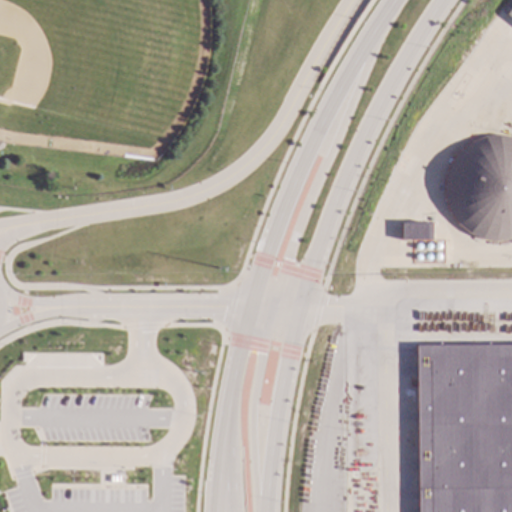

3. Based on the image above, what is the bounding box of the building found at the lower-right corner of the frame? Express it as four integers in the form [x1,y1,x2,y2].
[418,344,512,512]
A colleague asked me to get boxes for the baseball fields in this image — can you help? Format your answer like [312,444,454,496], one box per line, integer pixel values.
[0,0,213,160]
